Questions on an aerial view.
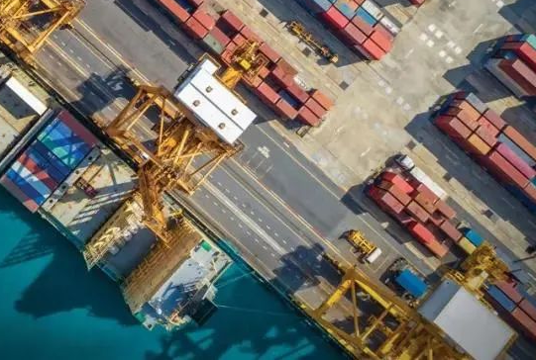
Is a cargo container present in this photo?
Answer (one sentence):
Yes, looking at the shot, I can spot a cargo container.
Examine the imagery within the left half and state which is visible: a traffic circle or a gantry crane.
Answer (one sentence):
It is a gantry crane that can be seen within the left half.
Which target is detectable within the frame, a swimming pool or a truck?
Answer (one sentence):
This aerial view contains a truck.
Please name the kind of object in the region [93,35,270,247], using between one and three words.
container crane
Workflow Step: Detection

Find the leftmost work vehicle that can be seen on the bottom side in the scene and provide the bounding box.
[341,224,380,259]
